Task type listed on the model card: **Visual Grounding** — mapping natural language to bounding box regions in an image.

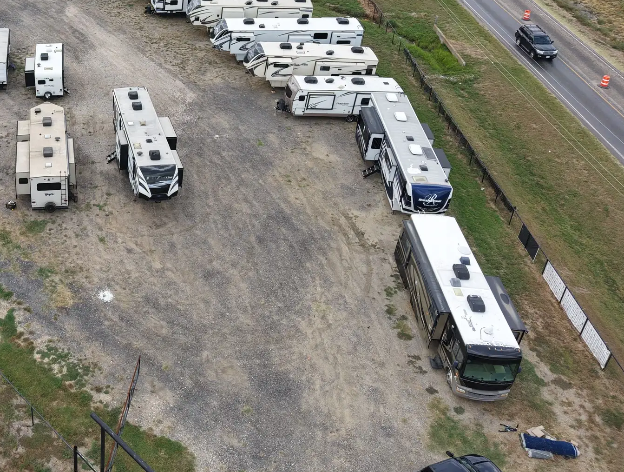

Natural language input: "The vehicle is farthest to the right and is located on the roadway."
[515,24,558,57]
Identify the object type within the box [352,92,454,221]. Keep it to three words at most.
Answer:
camper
